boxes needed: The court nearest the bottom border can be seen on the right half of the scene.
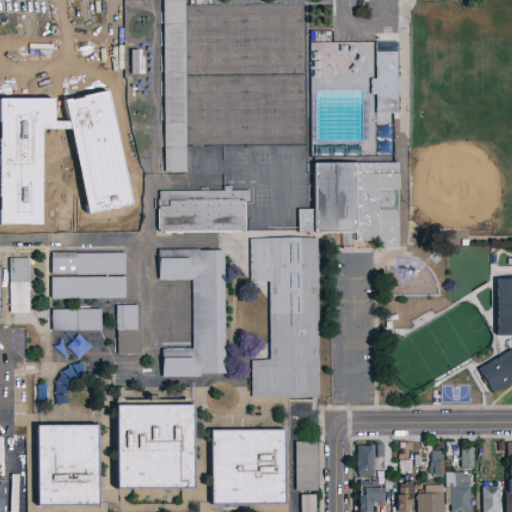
[442,384,472,404]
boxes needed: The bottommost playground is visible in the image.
[391,254,441,297]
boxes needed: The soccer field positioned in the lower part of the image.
[392,302,494,390]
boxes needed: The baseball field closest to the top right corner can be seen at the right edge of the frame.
[412,141,502,227]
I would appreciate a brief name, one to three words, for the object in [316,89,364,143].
swimming pool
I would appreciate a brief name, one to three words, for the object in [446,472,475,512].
house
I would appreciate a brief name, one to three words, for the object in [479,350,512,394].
building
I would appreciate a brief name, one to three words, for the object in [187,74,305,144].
sports court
